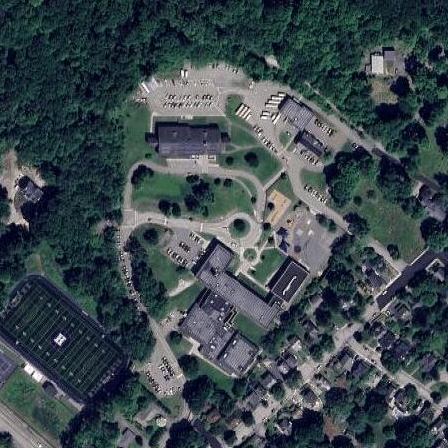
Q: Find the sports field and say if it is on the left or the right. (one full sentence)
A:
The sports field sits on the left side.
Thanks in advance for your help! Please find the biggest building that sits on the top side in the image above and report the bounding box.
[145,126,230,159]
